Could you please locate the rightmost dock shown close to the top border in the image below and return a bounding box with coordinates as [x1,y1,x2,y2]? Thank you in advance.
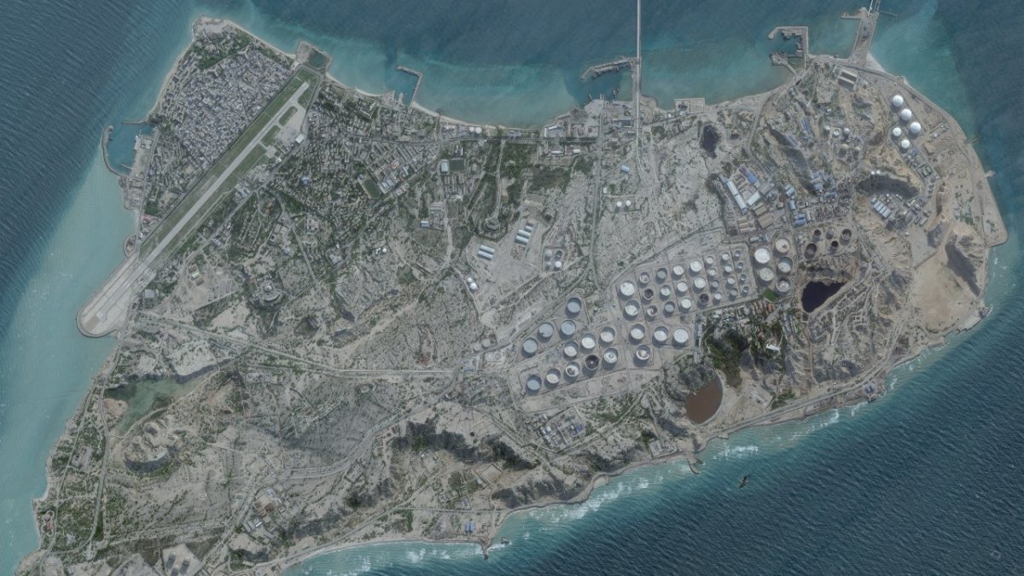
[841,0,896,57]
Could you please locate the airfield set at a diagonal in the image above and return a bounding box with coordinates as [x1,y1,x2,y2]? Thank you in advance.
[79,70,323,334]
